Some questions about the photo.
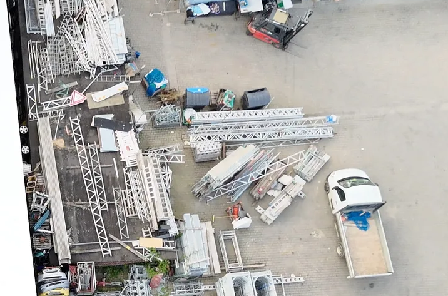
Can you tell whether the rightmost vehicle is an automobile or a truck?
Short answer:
truck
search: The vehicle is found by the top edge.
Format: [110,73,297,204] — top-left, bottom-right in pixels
[257,2,313,47]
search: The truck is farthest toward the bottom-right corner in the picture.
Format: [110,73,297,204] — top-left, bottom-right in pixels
[325,170,392,280]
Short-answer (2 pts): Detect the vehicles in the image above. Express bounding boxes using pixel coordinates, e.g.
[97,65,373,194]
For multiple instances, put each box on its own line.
[257,2,313,47]
[325,170,392,280]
